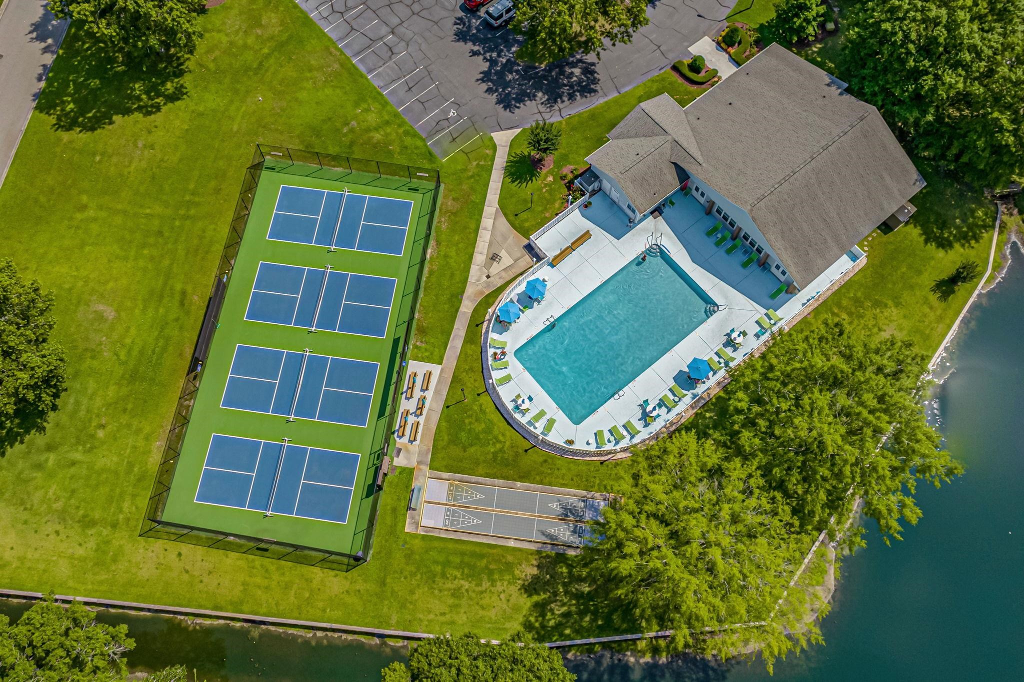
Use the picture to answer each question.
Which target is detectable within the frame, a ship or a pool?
pool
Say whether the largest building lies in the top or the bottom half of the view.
top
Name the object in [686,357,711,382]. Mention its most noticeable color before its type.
blue umbrella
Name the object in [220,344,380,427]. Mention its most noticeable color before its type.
blue sports court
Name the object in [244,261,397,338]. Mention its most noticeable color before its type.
blue sports court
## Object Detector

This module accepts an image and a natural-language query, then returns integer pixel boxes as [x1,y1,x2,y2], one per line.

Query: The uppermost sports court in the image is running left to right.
[266,184,414,256]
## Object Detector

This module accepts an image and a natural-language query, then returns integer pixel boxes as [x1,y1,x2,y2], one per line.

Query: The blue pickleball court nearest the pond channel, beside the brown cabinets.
[194,434,361,523]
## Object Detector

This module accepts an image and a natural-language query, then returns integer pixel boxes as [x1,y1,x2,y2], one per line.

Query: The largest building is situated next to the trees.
[585,42,927,296]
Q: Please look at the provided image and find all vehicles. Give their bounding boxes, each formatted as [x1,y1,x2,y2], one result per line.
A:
[465,0,494,12]
[486,0,526,28]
